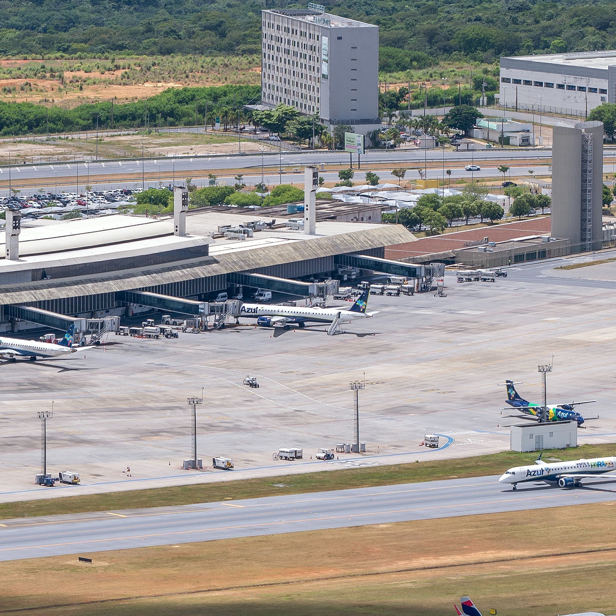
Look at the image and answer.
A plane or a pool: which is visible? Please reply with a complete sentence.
Visible in the photo is a plane.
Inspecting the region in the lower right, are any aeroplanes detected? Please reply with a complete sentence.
Yes, looking in the lower right, one can make out an aeroplane.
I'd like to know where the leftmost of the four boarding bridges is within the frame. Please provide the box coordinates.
[4,304,122,350]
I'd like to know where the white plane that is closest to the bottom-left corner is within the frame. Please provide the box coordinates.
[0,321,95,361]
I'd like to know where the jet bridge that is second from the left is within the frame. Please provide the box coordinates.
[121,289,241,332]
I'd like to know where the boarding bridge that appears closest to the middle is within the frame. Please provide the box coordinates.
[230,272,341,308]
